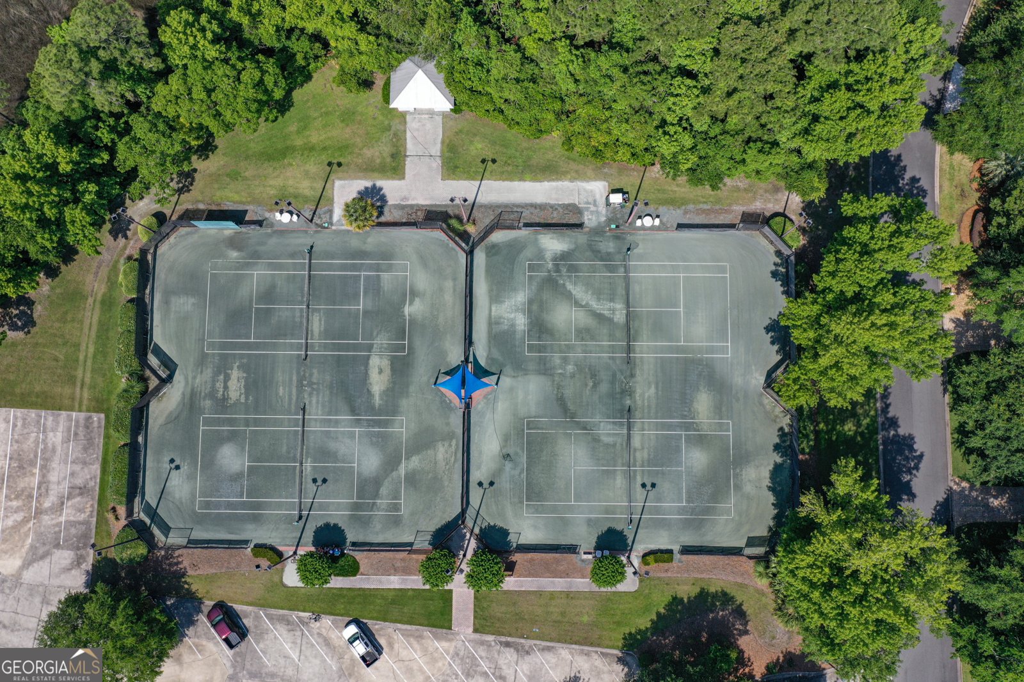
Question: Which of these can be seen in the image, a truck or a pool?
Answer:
truck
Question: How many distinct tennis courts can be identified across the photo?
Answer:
4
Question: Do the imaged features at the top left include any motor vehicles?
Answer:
No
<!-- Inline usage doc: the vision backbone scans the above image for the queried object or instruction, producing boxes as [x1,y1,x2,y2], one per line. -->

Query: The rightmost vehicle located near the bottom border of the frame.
[341,619,382,670]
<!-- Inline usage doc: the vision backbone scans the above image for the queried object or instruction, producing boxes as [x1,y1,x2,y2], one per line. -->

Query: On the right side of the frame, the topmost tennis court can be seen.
[466,230,789,389]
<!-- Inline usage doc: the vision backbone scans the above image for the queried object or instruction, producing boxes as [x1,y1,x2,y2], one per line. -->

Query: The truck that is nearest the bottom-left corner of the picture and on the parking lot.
[207,604,246,653]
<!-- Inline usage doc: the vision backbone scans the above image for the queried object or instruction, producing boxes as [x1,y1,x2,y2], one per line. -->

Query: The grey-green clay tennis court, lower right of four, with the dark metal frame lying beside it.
[463,386,794,556]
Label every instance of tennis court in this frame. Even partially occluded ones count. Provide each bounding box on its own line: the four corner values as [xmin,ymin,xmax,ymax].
[138,382,465,551]
[466,230,789,389]
[463,386,794,556]
[148,228,468,386]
